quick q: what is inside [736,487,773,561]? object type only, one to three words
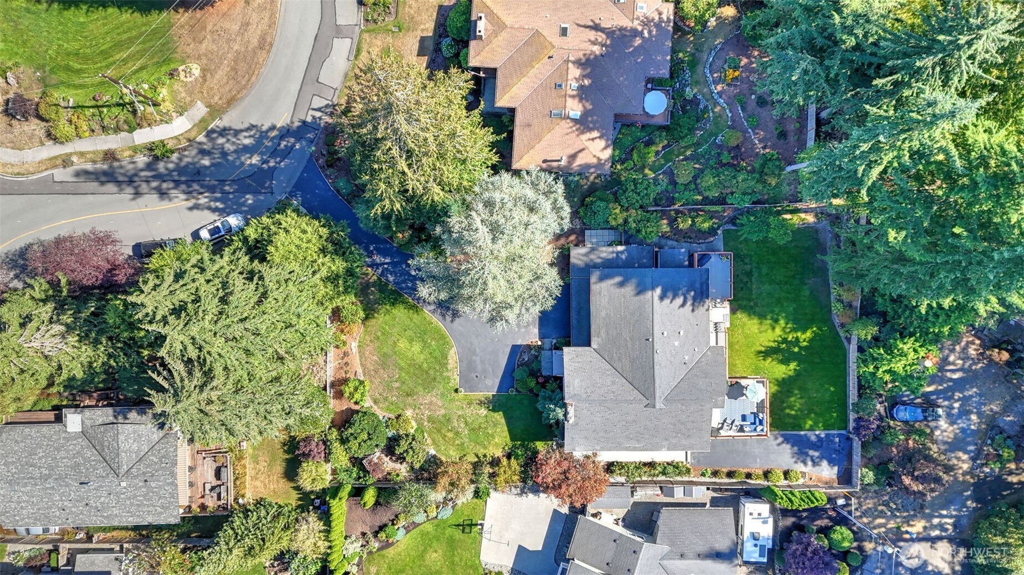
camper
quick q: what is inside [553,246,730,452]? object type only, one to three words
house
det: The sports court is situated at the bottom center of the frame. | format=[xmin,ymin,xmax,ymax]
[481,492,568,575]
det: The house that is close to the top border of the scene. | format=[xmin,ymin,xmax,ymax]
[468,0,673,174]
